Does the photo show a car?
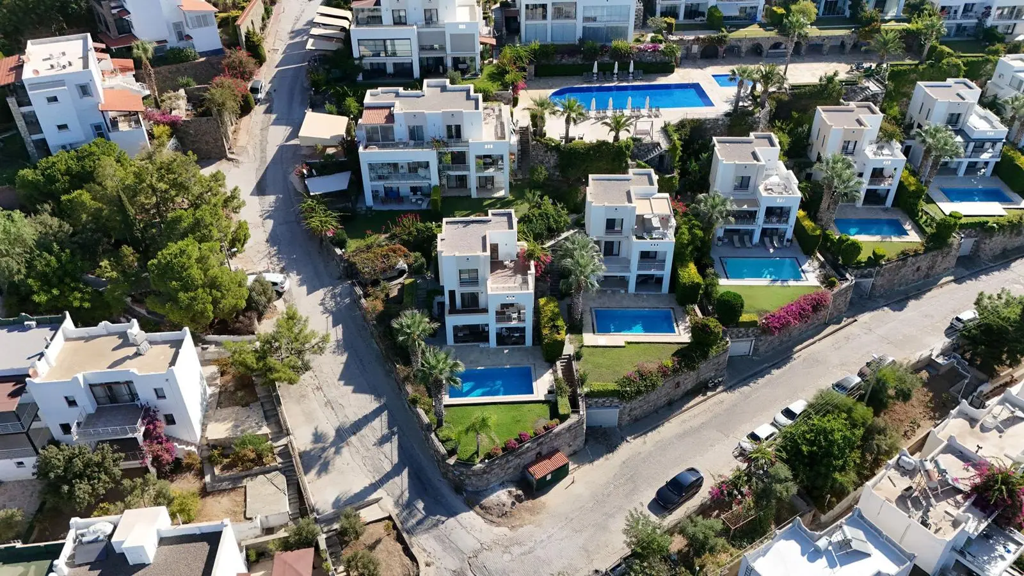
Yes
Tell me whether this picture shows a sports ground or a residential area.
residential area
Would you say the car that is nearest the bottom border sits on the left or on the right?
right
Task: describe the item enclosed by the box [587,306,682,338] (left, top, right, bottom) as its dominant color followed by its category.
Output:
blue swimming pool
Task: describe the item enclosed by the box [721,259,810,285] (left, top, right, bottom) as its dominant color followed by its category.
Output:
blue swimming pool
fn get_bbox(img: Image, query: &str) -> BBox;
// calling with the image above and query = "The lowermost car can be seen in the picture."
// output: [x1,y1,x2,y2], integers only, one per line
[652,471,701,511]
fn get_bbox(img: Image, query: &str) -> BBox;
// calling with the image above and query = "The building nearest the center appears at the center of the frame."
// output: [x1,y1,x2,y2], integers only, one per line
[440,206,533,346]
